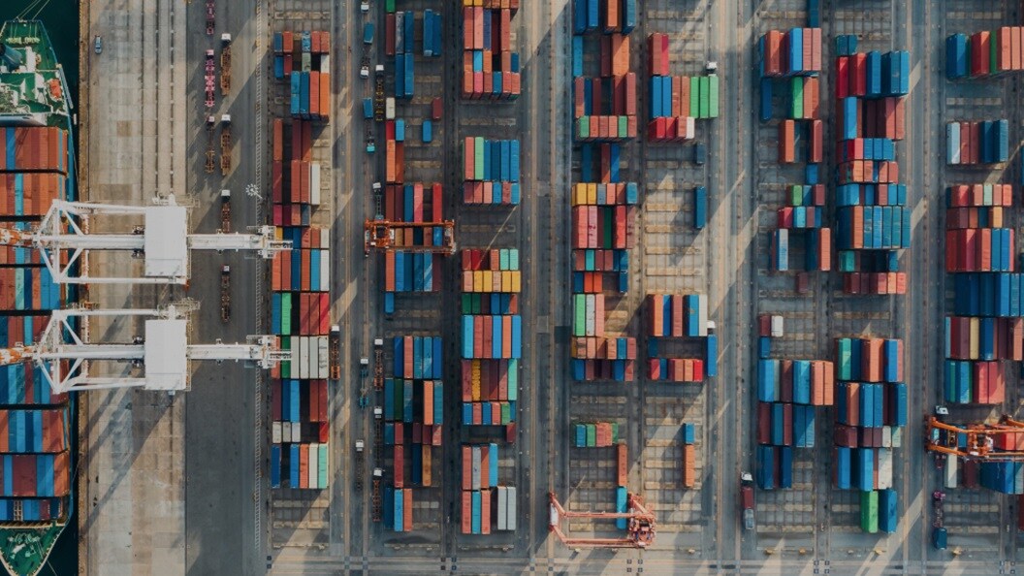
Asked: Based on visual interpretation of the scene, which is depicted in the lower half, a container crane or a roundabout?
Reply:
container crane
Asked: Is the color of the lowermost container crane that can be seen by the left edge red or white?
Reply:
white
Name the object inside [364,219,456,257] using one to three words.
container crane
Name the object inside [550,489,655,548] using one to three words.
container crane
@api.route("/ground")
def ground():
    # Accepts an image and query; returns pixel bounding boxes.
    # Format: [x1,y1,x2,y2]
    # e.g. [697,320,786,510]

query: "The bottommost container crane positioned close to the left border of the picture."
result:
[0,294,293,396]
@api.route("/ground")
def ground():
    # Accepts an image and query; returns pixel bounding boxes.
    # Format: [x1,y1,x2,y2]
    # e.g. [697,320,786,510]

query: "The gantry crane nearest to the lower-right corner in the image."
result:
[928,412,1024,460]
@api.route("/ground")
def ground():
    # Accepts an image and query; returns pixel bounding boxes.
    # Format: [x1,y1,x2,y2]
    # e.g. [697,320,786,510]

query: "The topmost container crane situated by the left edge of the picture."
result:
[0,185,293,293]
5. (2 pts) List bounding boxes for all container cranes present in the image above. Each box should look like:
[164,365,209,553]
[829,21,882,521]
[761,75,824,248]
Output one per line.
[0,294,293,396]
[0,185,293,293]
[928,412,1024,460]
[550,489,655,548]
[364,219,456,257]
